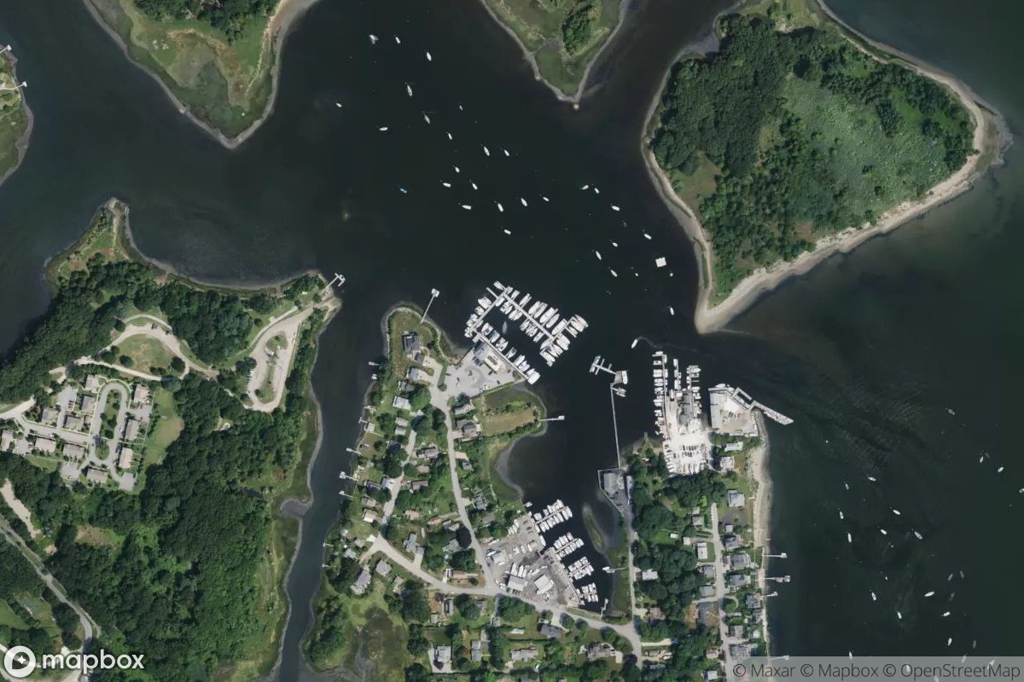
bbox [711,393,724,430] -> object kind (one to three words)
shed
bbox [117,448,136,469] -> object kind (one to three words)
house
